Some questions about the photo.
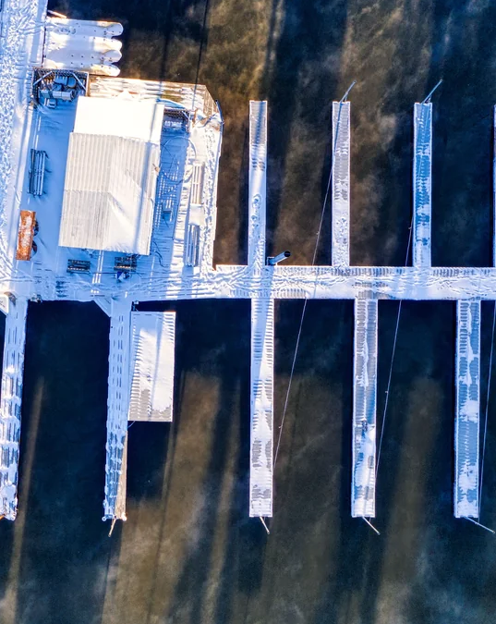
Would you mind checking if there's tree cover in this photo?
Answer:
No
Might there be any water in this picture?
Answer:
Yes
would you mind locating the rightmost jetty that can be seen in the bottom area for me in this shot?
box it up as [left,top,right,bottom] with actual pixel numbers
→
[453,300,481,518]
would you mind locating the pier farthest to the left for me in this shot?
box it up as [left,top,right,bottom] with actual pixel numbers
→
[0,300,29,520]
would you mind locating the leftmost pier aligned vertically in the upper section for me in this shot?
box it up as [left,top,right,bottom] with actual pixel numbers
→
[249,101,267,266]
